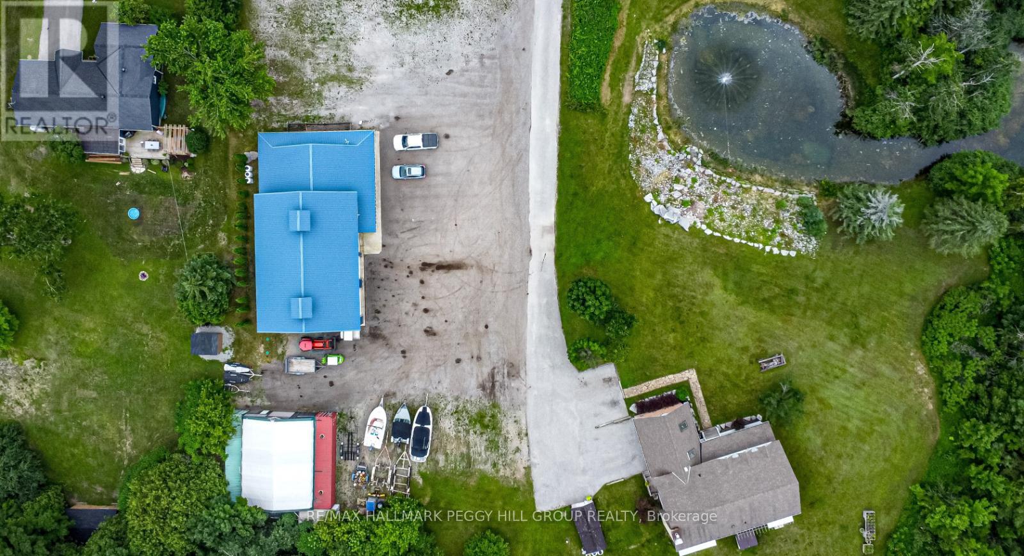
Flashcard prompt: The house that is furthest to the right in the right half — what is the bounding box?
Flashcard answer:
[633,400,802,556]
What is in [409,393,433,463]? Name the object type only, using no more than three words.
boat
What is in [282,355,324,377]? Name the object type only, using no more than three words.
trailer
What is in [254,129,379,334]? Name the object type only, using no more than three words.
building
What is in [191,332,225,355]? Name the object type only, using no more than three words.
shed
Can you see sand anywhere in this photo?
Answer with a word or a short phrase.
No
